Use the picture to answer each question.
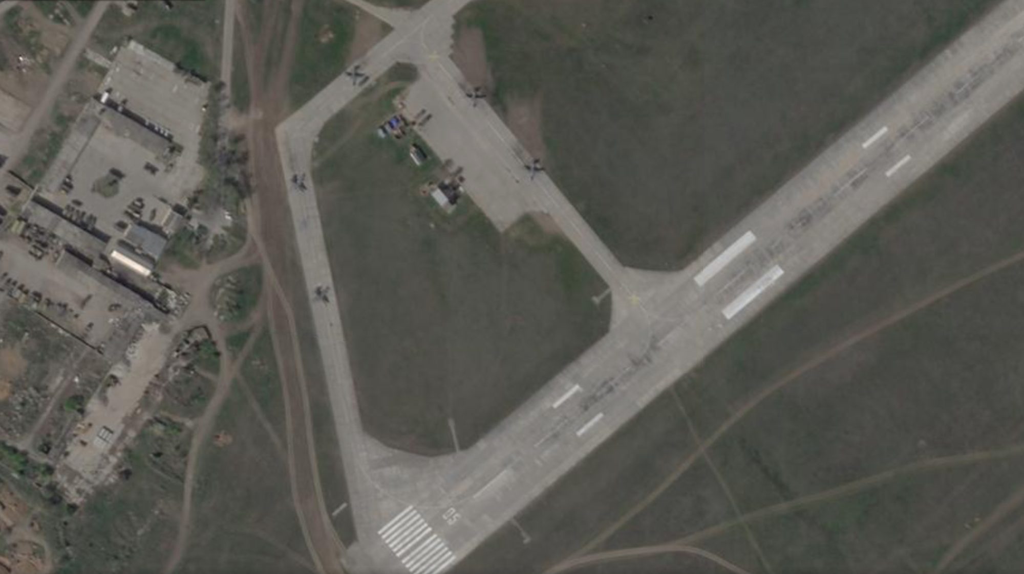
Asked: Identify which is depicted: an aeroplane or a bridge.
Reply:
aeroplane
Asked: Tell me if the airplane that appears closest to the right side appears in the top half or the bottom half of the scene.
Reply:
top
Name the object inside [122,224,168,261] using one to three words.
building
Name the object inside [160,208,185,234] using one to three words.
house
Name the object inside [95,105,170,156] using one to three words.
building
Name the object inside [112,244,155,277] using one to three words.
shed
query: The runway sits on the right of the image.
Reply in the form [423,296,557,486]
[341,0,1024,574]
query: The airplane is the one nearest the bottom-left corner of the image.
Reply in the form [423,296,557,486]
[313,285,332,303]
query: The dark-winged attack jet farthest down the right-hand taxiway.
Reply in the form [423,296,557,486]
[524,159,545,180]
